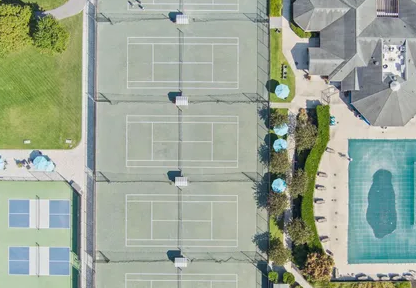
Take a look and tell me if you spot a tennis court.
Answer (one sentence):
Yes, the photo shows a tennis court.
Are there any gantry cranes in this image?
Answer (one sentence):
No, I find no gantry crane anywhere in the image.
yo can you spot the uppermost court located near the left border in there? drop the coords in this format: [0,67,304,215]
[0,181,81,236]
